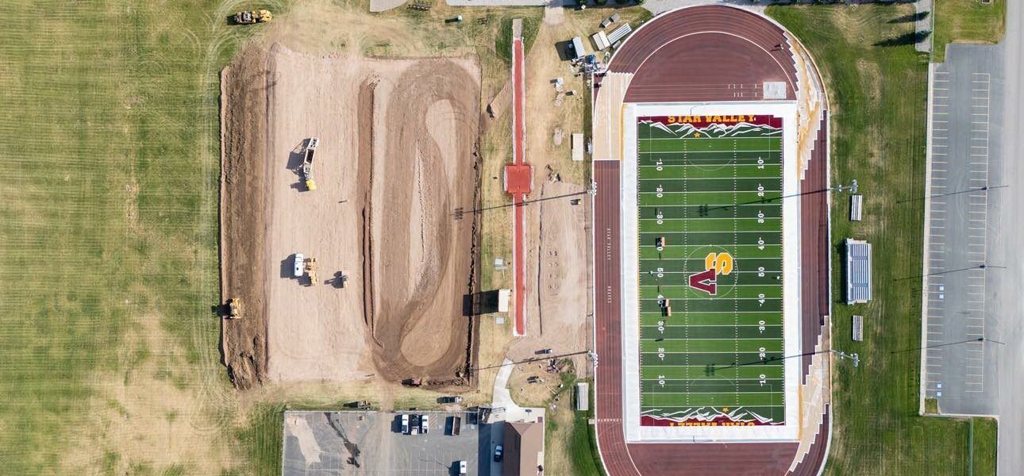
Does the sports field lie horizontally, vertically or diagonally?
vertically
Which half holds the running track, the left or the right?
right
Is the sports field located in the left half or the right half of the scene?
right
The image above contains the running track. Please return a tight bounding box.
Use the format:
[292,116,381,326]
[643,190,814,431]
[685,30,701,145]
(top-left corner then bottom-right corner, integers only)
[590,3,832,476]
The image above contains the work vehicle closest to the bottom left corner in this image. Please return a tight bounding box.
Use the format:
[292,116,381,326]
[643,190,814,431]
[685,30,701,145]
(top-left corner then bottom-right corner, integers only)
[231,299,243,319]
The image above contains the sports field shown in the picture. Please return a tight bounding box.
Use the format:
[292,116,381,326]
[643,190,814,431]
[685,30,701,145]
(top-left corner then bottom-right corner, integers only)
[620,100,802,445]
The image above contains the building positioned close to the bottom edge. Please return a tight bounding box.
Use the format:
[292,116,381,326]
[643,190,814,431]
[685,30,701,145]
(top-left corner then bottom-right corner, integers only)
[504,420,542,476]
